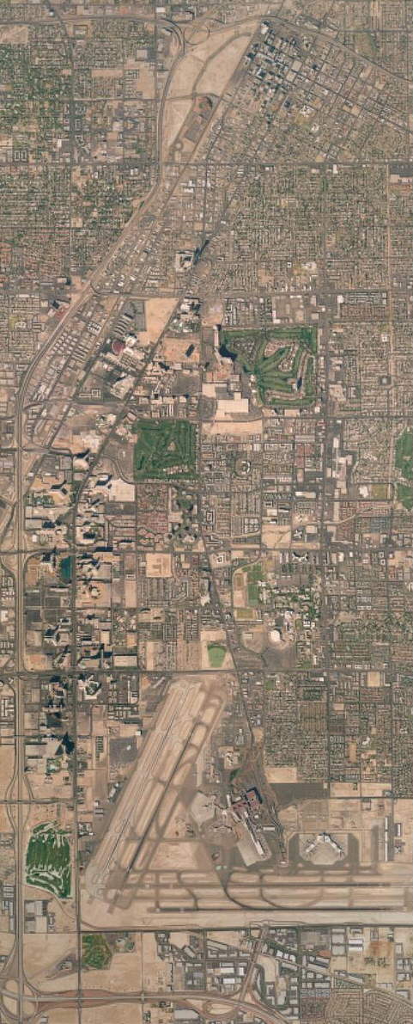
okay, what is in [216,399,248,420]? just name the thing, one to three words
building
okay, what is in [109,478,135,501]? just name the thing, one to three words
building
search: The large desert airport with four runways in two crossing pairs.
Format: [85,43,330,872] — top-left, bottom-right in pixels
[82,676,413,927]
